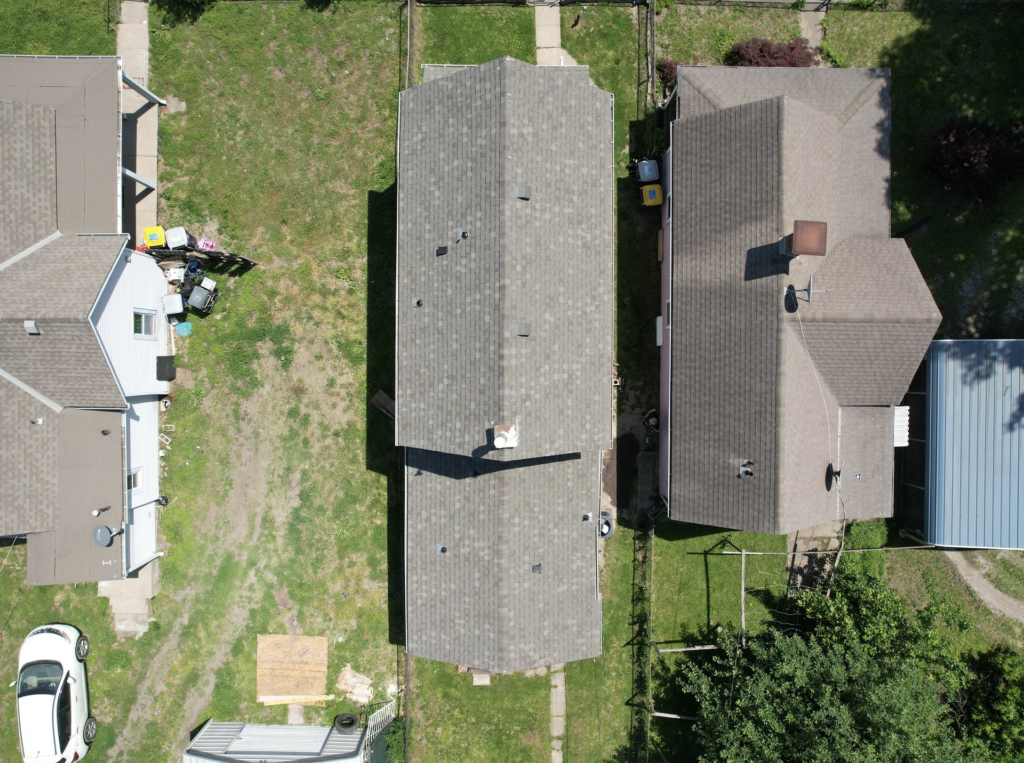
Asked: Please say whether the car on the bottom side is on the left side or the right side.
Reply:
left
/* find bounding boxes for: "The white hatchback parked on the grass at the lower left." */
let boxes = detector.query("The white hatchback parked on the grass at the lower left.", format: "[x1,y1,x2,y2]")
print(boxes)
[8,624,96,763]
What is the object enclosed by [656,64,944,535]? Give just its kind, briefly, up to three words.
house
